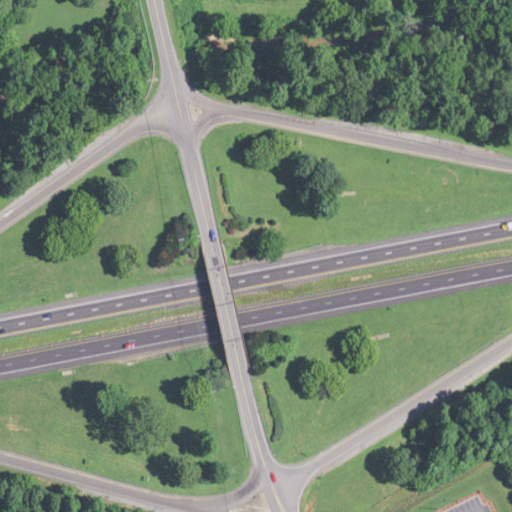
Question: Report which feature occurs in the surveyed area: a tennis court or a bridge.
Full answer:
I can see a bridge in this picture.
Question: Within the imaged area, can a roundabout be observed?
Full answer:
No, no roundabout is visible in the view.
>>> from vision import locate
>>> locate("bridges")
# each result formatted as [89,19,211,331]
[203,246,248,363]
